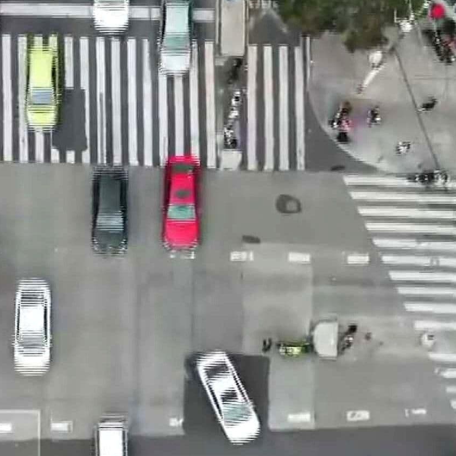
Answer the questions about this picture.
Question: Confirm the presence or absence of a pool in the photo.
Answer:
No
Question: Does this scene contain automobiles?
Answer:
Yes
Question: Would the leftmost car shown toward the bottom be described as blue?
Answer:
No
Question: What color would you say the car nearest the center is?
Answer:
red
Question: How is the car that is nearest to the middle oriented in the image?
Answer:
up and down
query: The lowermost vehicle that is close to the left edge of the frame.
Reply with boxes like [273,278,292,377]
[10,279,54,376]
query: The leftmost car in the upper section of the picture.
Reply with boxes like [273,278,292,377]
[21,35,62,132]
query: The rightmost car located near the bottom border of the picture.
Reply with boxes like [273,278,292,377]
[196,349,259,445]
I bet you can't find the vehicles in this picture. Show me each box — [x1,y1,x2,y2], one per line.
[430,27,453,61]
[95,414,128,456]
[161,155,204,253]
[10,279,54,376]
[196,349,259,445]
[227,54,245,91]
[21,35,62,132]
[93,0,130,35]
[157,0,196,77]
[90,166,130,255]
